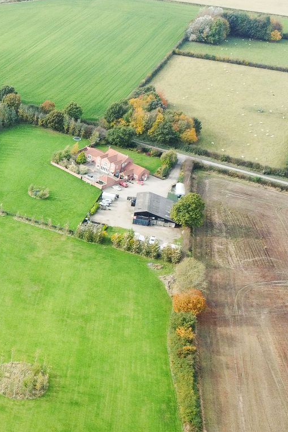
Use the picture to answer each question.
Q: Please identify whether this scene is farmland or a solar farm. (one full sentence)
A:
What you see here is farmland.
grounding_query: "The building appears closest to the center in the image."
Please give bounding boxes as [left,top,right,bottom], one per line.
[130,188,181,228]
